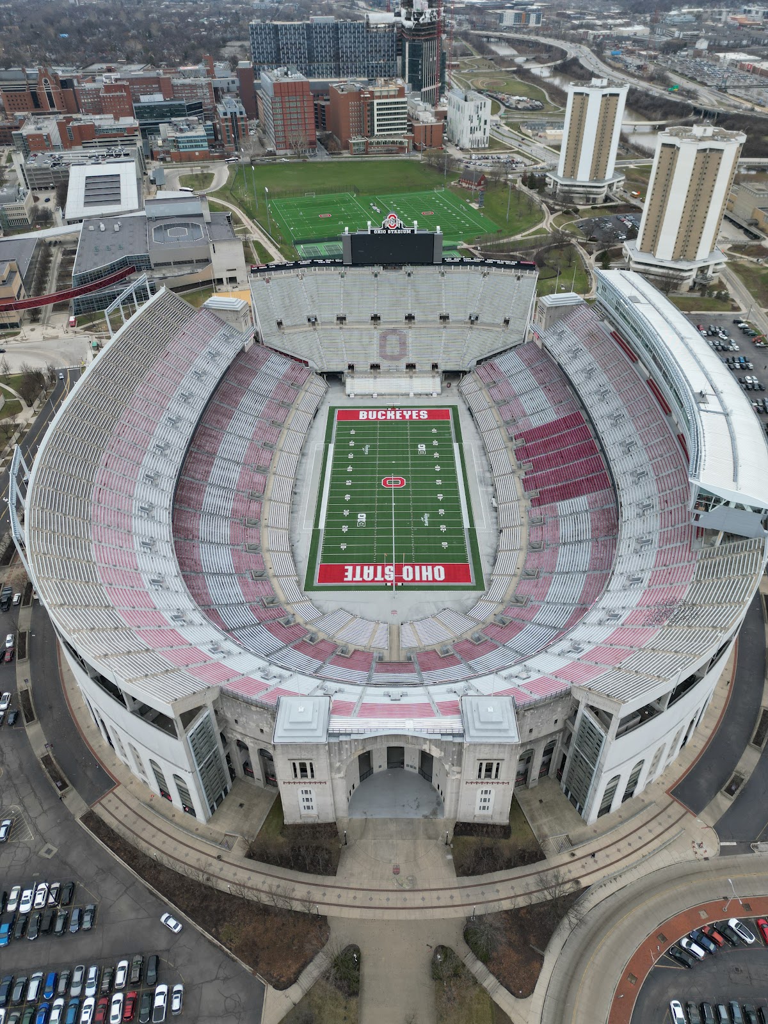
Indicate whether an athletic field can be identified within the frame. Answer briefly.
Yes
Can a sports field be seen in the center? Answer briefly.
Yes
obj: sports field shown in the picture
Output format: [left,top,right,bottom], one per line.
[290,405,499,590]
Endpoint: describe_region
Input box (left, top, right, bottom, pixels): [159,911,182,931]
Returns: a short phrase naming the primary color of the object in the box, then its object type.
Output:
white car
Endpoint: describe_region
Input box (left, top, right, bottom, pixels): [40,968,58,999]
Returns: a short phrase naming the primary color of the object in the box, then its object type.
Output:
blue vehicle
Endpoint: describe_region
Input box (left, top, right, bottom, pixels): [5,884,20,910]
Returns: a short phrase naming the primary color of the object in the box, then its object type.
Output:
white car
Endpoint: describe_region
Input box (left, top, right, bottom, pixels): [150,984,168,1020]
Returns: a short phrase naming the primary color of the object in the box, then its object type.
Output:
white vehicle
